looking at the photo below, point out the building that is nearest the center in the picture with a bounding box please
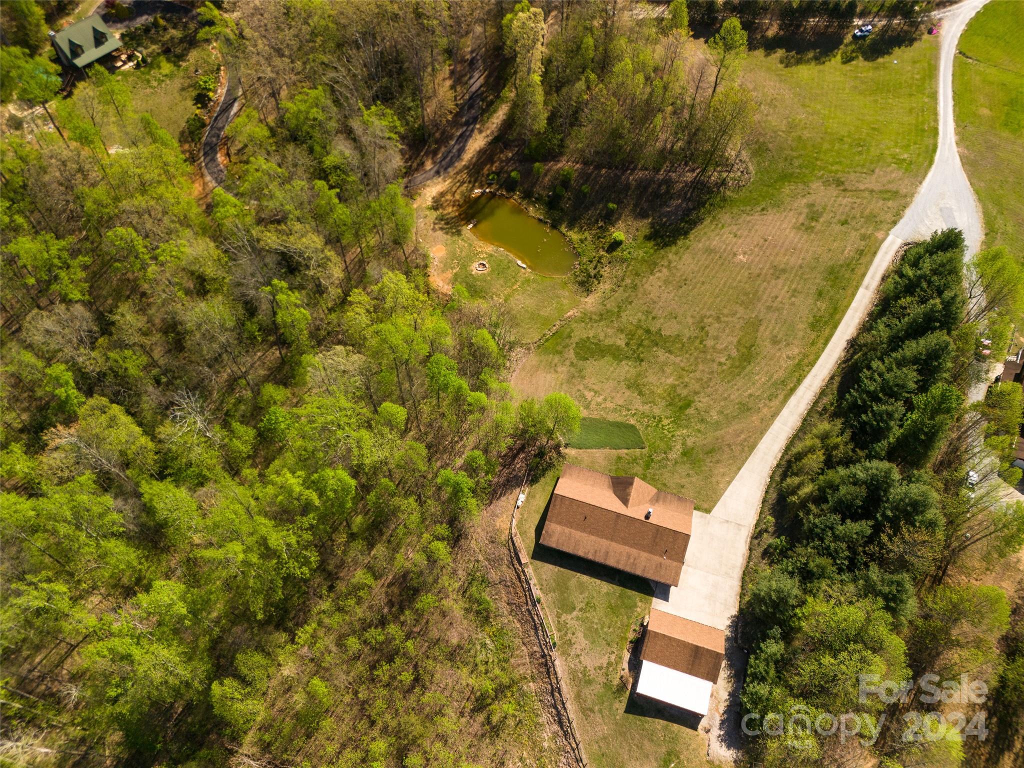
[539,463,694,588]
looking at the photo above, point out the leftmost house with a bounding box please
[47,15,129,78]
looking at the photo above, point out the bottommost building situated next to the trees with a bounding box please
[633,608,725,719]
